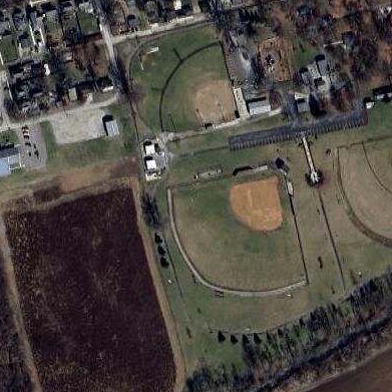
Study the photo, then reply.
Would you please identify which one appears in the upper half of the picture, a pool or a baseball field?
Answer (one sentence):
What appears in the upper half of the picture is a baseball field.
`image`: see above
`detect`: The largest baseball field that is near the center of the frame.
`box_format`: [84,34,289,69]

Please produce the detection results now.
[167,165,308,294]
